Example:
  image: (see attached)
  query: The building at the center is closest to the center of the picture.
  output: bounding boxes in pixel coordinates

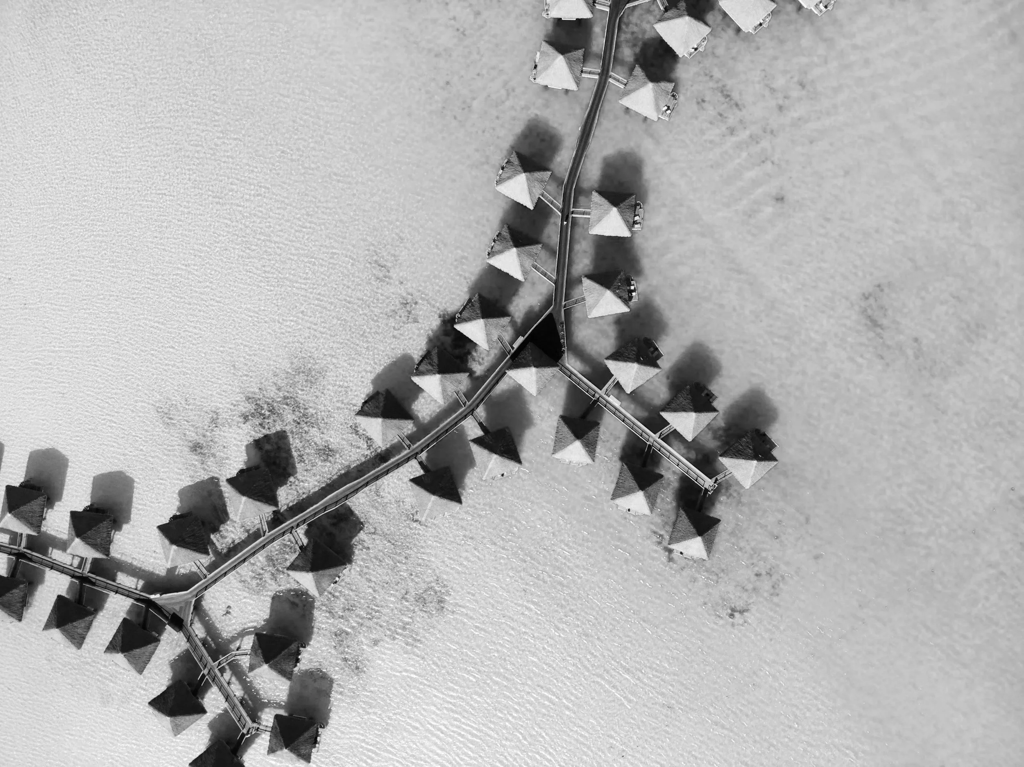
[503,340,562,399]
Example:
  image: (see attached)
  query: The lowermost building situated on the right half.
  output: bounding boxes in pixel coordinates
[668,507,721,560]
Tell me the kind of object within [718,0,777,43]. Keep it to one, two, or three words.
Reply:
house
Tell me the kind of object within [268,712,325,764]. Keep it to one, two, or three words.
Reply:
house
